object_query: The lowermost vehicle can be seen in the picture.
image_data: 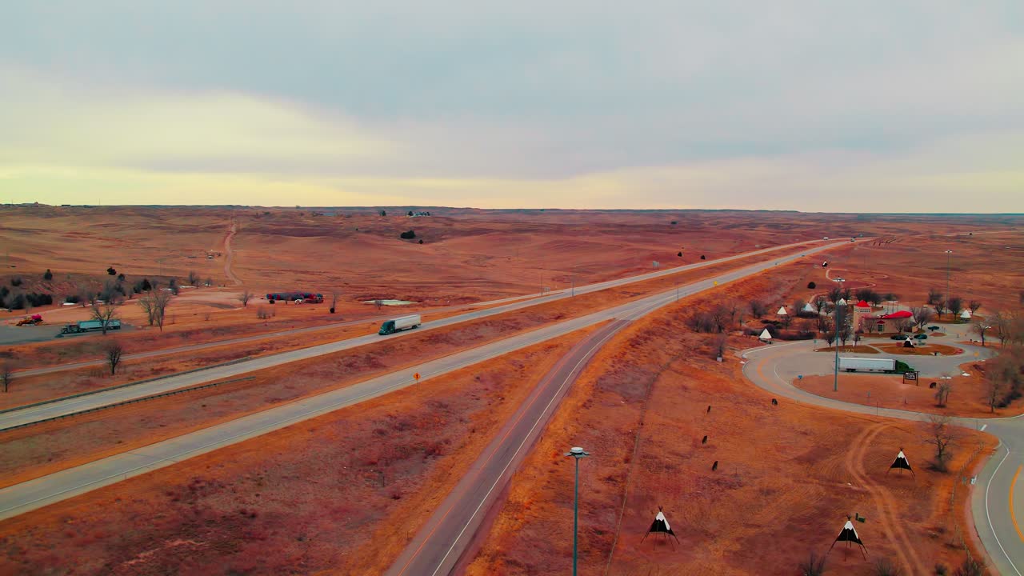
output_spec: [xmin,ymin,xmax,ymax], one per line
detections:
[838,357,910,373]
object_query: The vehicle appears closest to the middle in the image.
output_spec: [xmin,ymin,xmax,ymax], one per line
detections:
[379,315,420,334]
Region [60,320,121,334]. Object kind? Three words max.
vehicle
